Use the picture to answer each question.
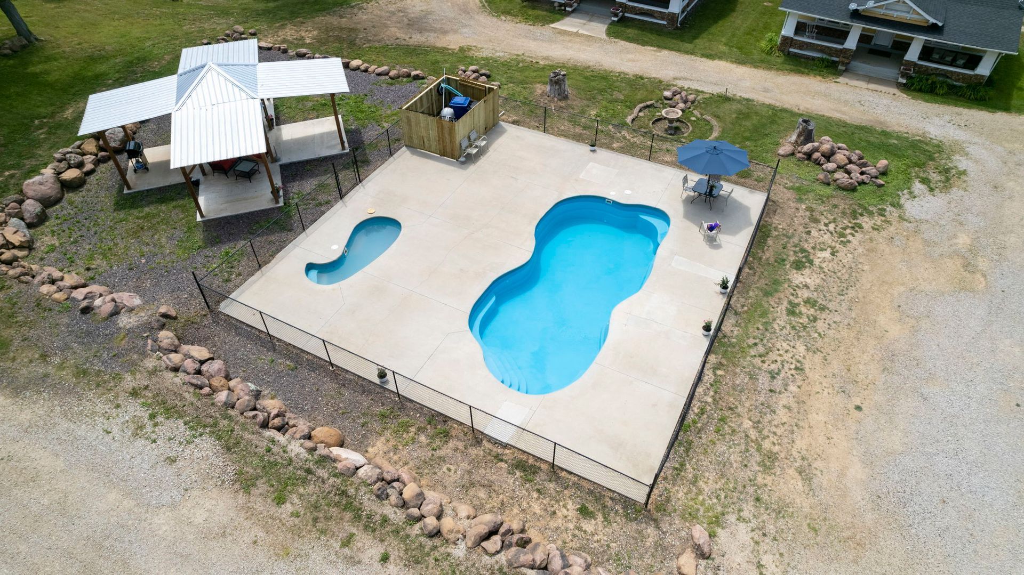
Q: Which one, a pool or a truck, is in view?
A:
pool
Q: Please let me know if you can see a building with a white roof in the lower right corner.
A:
No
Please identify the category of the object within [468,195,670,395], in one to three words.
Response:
swimming pool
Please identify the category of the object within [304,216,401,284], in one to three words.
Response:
swimming pool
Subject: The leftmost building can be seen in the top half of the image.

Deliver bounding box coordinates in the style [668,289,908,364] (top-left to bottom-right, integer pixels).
[77,38,352,218]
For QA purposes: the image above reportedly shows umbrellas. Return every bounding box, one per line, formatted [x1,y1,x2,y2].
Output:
[681,138,753,204]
